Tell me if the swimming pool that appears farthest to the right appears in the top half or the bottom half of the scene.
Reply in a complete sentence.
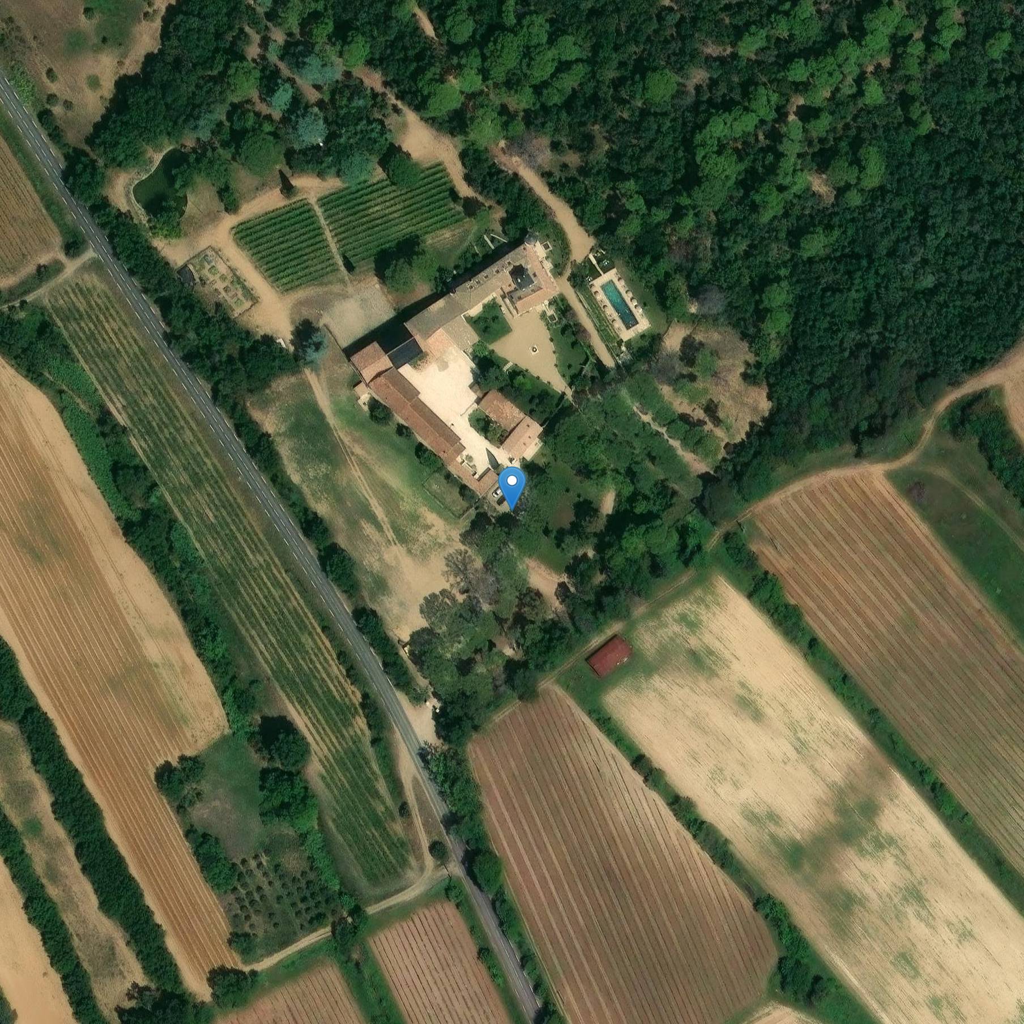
You can find the swimming pool that appears farthest to the right in the top half.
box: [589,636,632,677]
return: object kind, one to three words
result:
barn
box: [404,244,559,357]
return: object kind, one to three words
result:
house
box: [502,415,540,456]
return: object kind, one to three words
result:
building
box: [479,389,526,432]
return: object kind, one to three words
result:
barn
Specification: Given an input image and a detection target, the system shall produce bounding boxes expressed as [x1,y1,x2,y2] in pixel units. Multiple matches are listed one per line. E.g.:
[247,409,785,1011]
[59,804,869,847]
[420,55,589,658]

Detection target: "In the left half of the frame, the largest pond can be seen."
[134,148,189,220]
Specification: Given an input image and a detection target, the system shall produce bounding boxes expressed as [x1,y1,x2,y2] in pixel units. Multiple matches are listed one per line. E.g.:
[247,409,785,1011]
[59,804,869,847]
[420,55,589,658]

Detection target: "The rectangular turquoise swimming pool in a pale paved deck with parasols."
[589,269,651,339]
